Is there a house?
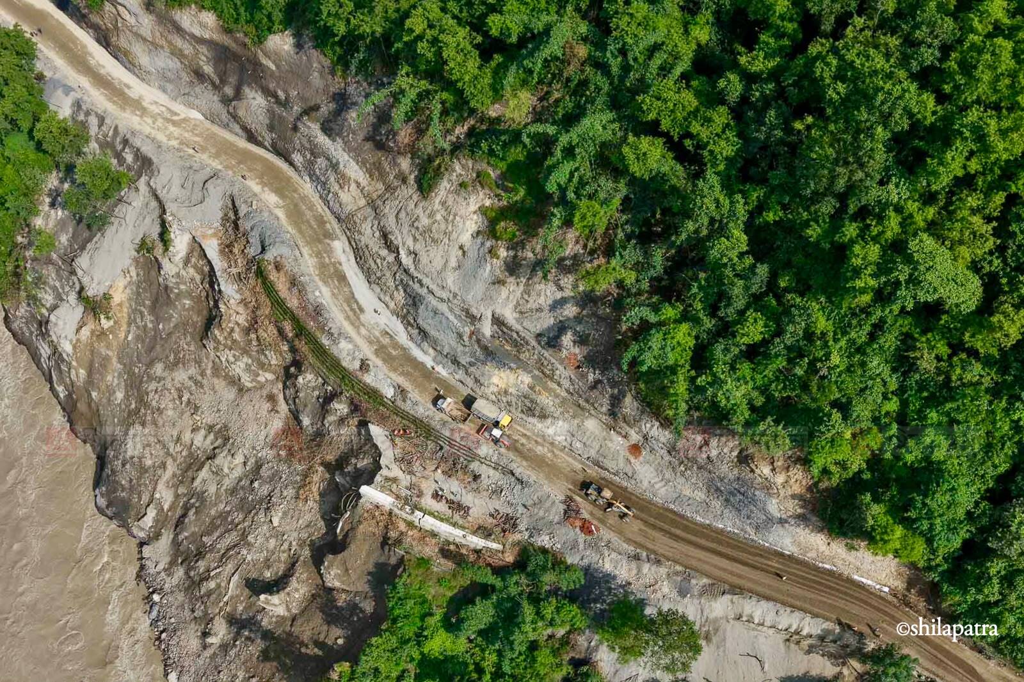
No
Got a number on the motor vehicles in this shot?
4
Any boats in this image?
No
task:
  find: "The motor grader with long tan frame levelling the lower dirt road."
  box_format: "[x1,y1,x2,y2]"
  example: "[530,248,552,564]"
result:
[586,484,640,527]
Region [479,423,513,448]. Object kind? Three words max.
work vehicle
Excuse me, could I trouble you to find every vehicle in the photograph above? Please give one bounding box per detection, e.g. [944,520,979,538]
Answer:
[471,399,513,432]
[586,484,640,527]
[435,397,475,426]
[479,423,513,448]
